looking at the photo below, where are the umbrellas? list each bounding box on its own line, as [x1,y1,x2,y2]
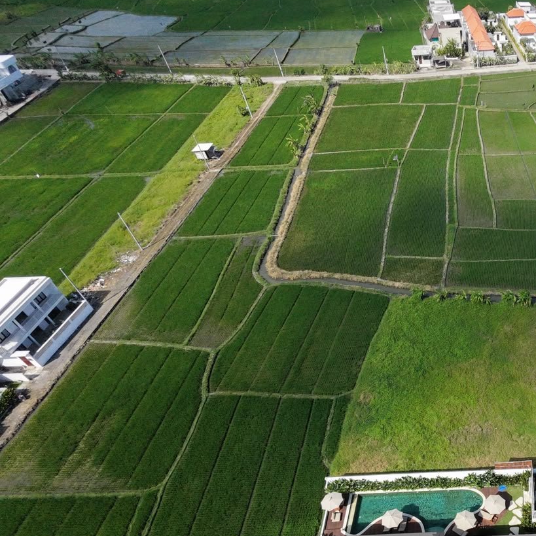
[483,494,505,515]
[454,511,477,533]
[322,492,345,512]
[381,509,403,530]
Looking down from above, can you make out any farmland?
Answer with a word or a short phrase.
Yes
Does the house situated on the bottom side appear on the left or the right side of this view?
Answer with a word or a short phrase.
left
